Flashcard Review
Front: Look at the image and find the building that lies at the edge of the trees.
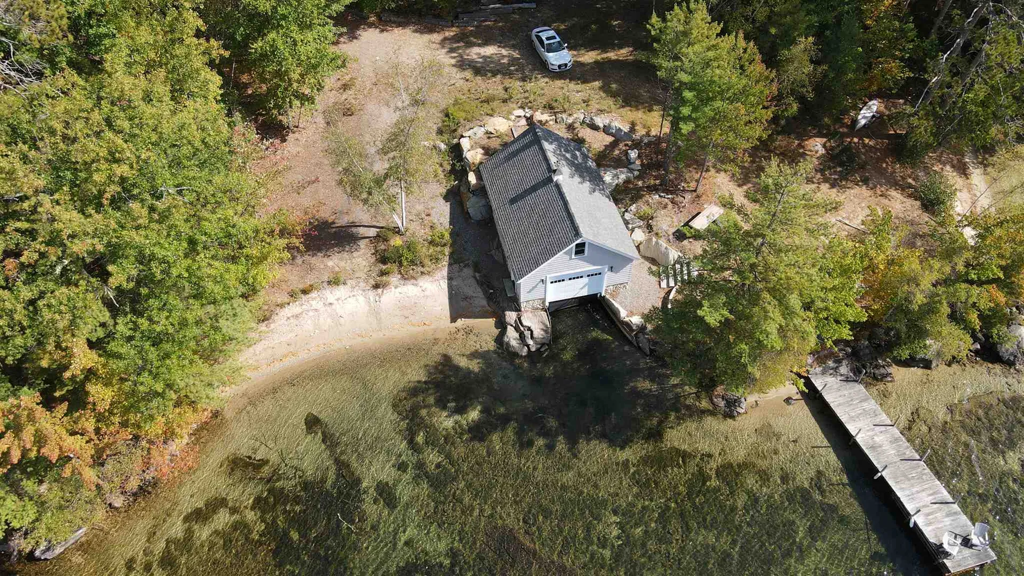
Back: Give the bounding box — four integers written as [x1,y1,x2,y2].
[479,125,641,310]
